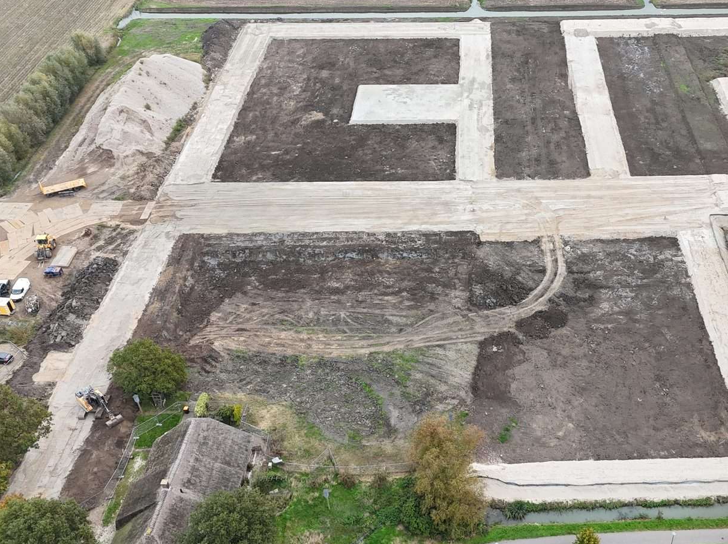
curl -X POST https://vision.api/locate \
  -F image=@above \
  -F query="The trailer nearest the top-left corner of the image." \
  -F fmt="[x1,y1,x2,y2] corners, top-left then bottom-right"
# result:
[33,175,84,199]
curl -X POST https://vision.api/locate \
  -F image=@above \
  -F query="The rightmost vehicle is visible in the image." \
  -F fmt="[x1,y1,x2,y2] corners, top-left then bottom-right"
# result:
[69,383,128,436]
